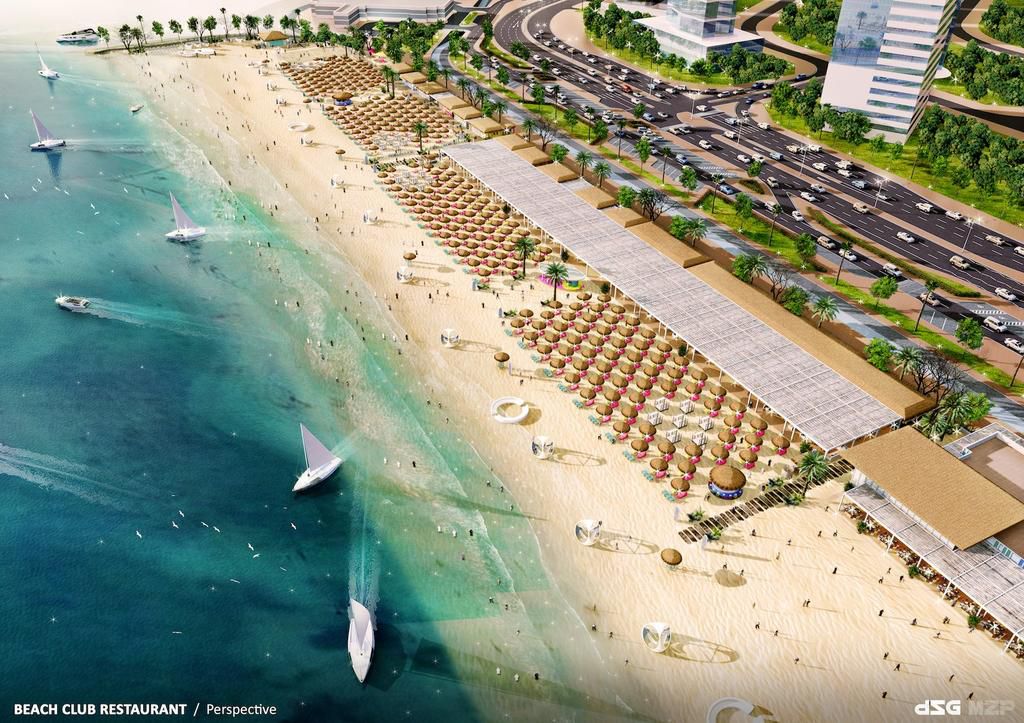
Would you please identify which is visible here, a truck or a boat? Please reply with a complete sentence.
The image shows a boat.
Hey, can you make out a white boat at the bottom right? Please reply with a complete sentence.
No, the scene shows no white boat at the bottom right.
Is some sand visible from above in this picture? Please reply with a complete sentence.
Yes, sand can be seen from above here.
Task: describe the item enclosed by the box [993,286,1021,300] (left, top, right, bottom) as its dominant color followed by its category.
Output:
white car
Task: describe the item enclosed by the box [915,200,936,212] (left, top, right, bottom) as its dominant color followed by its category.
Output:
white vehicle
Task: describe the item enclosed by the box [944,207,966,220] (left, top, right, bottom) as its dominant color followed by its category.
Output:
white vehicle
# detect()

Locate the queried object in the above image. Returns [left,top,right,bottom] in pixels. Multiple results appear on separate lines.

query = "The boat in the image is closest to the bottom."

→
[351,602,379,681]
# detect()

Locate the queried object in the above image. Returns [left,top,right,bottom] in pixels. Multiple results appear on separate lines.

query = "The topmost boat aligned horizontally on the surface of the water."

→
[55,28,98,41]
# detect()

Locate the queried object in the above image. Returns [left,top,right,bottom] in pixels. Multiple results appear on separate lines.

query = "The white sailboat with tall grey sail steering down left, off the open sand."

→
[292,429,344,491]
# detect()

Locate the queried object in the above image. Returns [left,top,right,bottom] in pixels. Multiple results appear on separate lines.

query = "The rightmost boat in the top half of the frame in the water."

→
[165,199,206,238]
